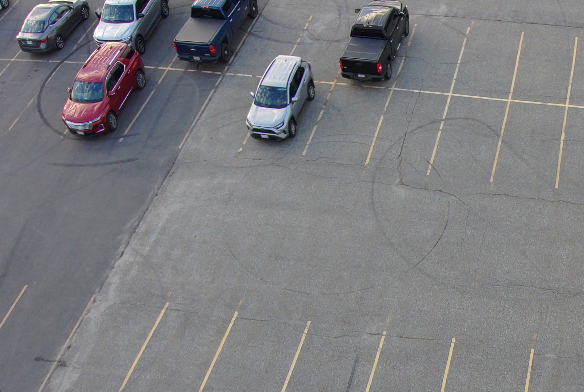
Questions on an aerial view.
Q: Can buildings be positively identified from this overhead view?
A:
No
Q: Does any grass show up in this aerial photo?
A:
No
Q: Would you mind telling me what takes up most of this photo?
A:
paved ground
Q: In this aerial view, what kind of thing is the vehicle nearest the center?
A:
car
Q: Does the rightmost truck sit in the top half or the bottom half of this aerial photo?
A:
top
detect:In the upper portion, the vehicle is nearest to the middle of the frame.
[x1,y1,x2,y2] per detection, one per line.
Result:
[246,54,313,143]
